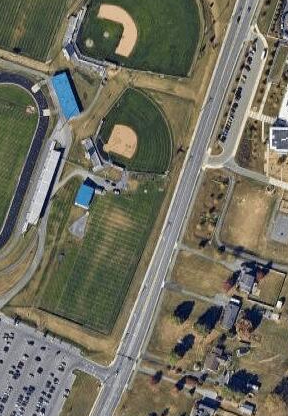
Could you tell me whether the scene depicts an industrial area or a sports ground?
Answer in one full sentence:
The area seen from above is a sports ground.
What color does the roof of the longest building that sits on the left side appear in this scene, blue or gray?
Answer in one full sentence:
The roof of the longest building that sits on the left side looks blue in the image.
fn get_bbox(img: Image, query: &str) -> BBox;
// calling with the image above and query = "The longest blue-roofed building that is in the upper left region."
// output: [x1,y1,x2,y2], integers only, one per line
[51,71,81,120]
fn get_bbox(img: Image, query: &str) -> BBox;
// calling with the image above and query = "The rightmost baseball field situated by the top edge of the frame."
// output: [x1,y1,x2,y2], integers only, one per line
[73,0,202,76]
